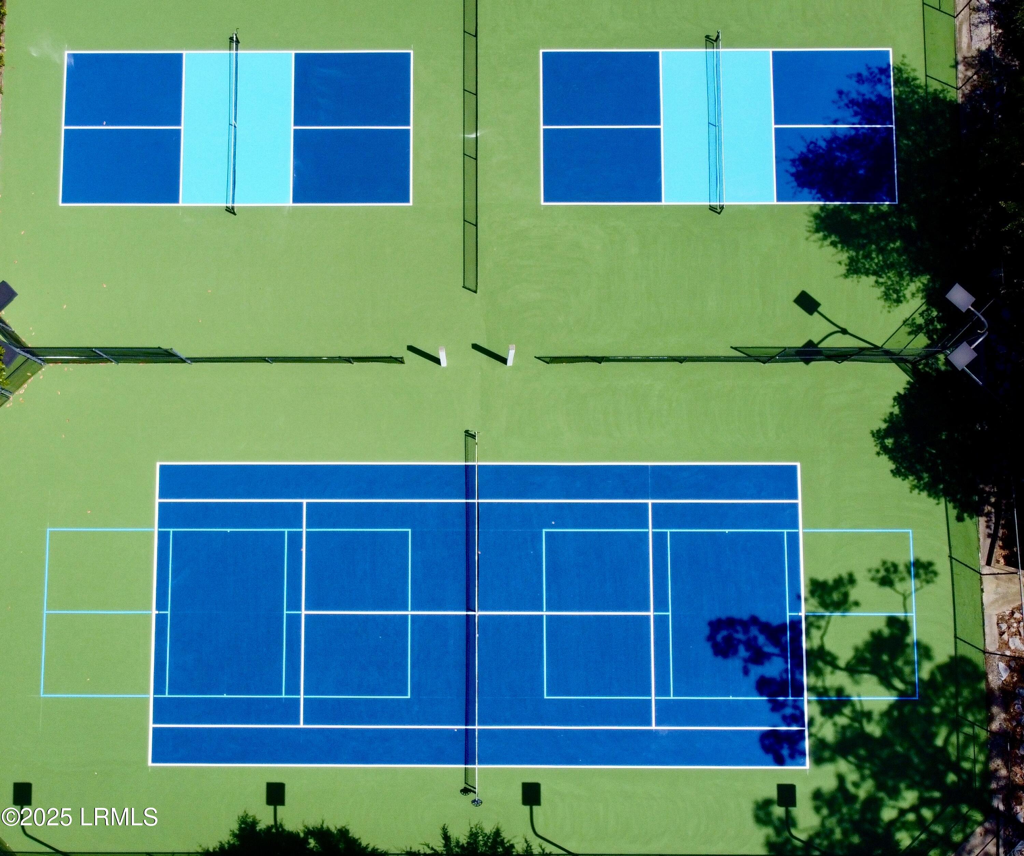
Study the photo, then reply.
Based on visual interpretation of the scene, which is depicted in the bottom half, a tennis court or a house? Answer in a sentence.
What appears in the bottom half is a tennis court.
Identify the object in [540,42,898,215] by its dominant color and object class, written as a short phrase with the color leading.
blue sports court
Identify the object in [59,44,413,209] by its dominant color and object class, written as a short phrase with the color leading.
blue sports court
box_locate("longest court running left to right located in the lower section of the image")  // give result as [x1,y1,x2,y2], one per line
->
[148,453,809,769]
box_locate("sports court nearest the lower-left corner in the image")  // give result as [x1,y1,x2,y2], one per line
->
[41,528,411,698]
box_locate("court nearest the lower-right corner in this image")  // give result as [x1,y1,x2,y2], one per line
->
[544,529,918,700]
